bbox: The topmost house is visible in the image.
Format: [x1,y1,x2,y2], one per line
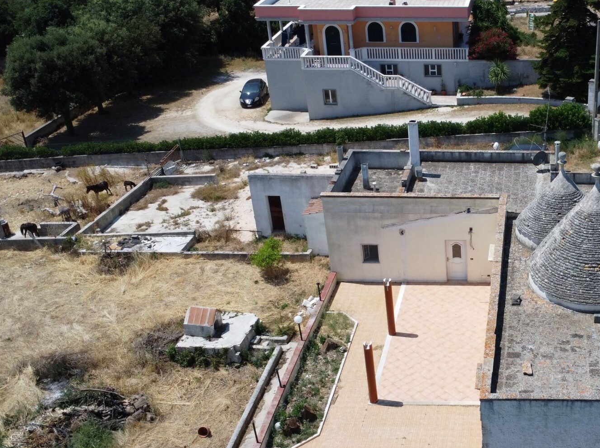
[254,0,476,119]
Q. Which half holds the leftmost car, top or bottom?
top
